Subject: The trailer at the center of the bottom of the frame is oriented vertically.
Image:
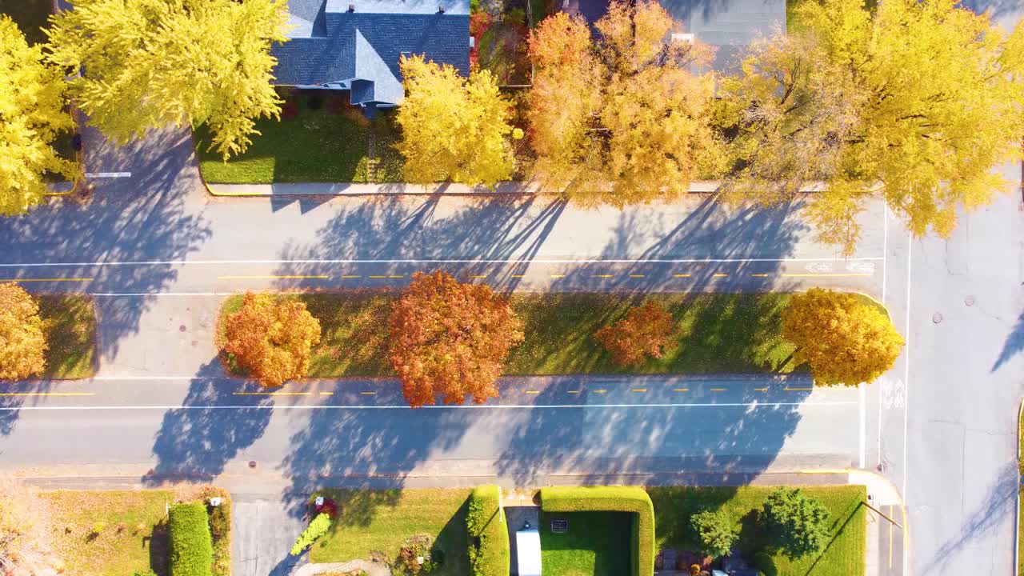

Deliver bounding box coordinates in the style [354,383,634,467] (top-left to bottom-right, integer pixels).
[516,519,542,576]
